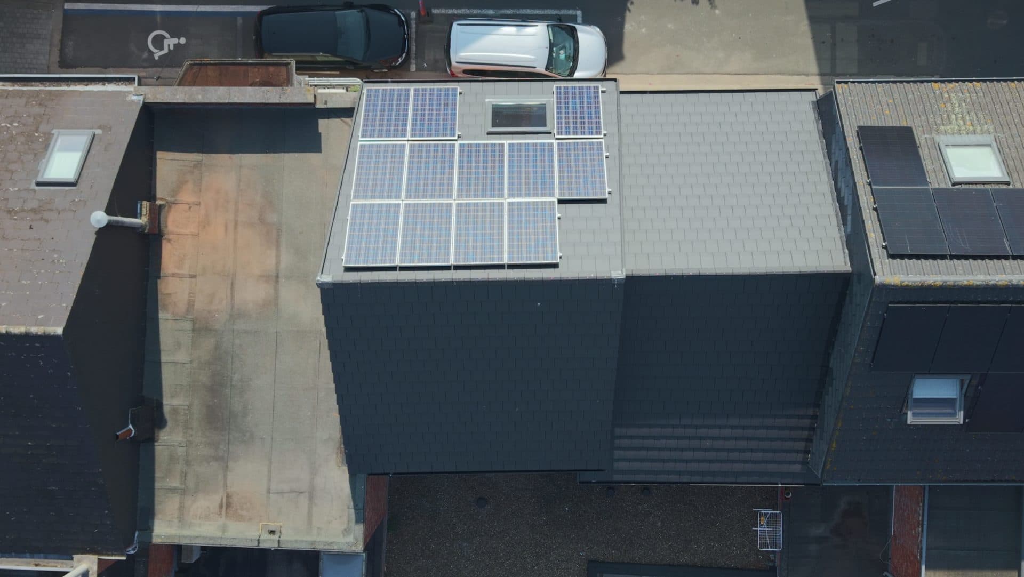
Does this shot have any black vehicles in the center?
No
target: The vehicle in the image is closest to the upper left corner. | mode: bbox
[254,0,412,76]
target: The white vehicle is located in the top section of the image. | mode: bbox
[446,6,608,78]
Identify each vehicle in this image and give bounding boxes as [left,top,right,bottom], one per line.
[446,6,608,78]
[254,0,412,76]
